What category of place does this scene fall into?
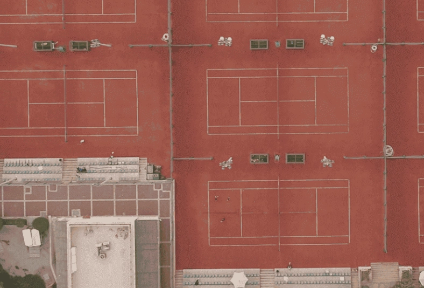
sports ground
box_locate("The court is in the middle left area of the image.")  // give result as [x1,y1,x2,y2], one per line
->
[0,45,175,184]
